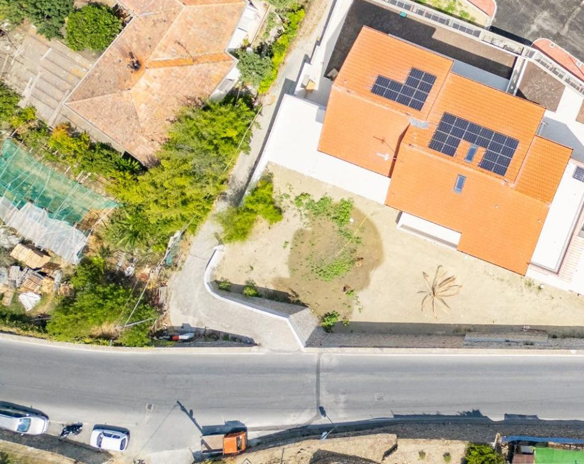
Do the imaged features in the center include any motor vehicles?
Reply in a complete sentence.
No, no motor vehicle is visible in the center.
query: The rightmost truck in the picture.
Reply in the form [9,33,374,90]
[200,430,249,455]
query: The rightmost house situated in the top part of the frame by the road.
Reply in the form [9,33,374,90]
[249,25,584,281]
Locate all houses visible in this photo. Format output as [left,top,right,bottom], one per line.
[249,25,584,281]
[61,0,260,163]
